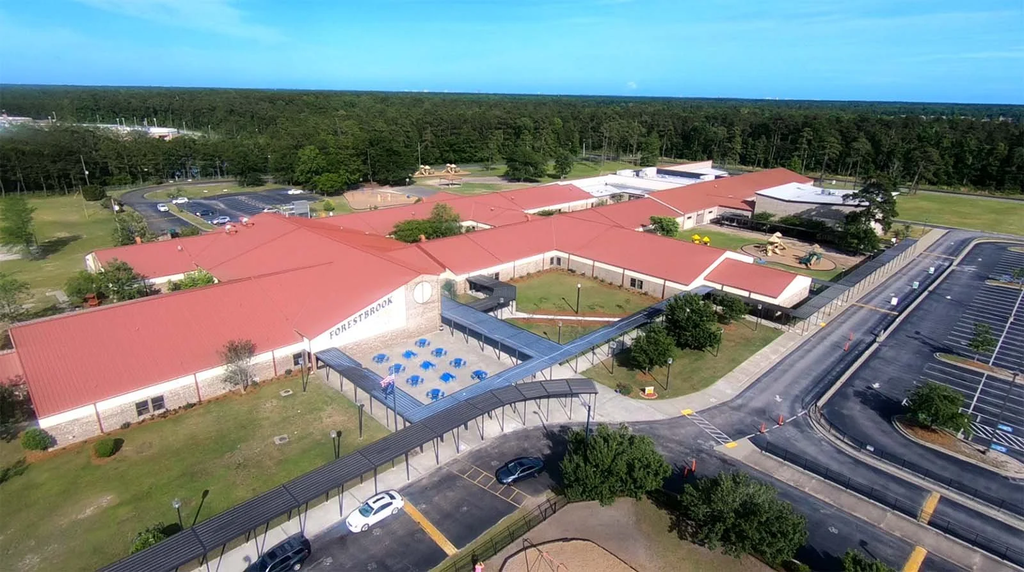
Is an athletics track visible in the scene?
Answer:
No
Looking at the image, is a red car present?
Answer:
No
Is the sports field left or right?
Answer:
right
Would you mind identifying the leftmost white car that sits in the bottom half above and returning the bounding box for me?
[346,485,407,529]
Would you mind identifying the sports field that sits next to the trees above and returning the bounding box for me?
[856,185,1024,235]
